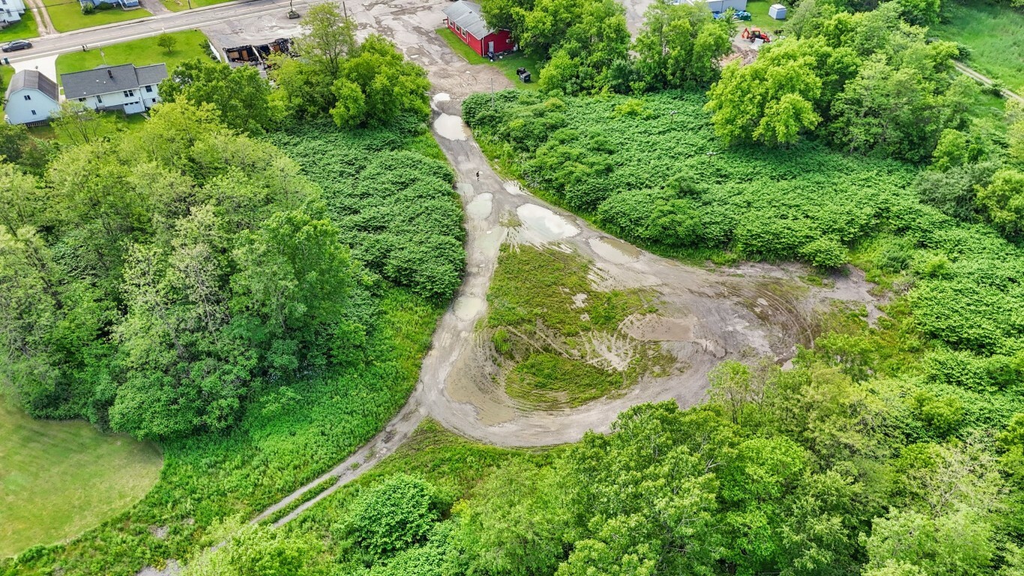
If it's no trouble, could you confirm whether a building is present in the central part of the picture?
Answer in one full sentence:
No, there's no building to be seen in the central part of the picture.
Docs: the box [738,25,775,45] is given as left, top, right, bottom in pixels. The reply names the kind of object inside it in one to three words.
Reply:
work vehicle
